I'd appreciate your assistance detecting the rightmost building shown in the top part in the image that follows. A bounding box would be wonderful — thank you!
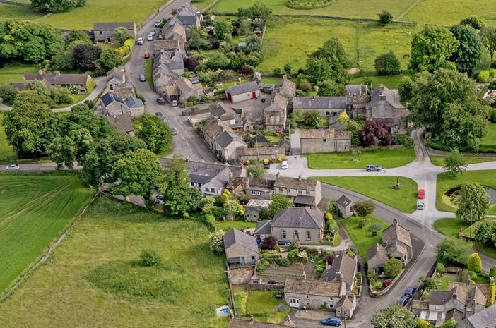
[366,81,412,137]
